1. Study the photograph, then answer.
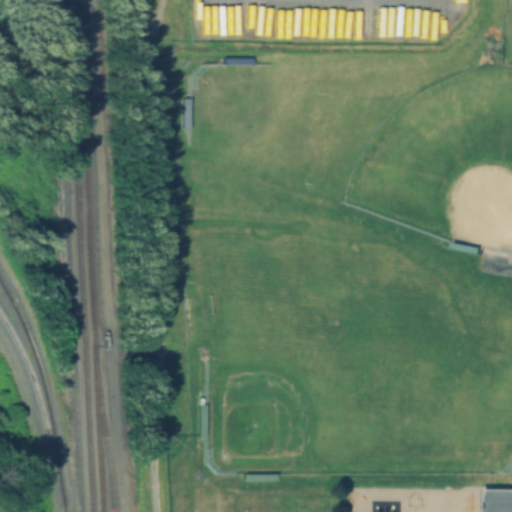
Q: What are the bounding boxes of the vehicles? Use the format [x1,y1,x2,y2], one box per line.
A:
[218,5,227,38]
[226,4,234,37]
[404,8,414,38]
[196,0,204,22]
[344,10,354,40]
[354,10,364,41]
[202,4,212,37]
[310,8,319,38]
[395,6,406,38]
[378,6,388,39]
[256,5,266,38]
[386,6,396,39]
[293,7,302,38]
[247,4,256,30]
[318,8,328,40]
[284,9,294,40]
[264,6,274,38]
[327,7,337,40]
[276,9,285,40]
[234,4,242,36]
[336,8,346,40]
[211,4,220,36]
[439,16,448,34]
[412,7,422,38]
[302,7,311,38]
[430,12,439,42]
[420,10,430,40]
